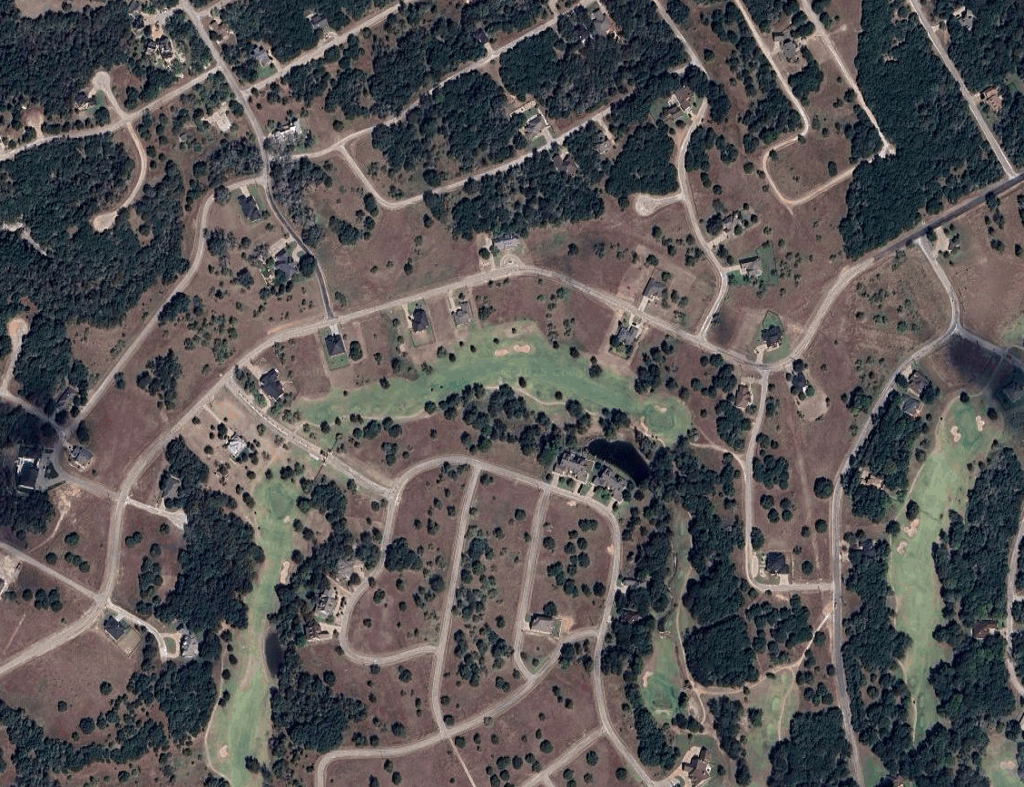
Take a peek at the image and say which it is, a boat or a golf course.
golf course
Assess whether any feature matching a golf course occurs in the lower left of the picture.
Yes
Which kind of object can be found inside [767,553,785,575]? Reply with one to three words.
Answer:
house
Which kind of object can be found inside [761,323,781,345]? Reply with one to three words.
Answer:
house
